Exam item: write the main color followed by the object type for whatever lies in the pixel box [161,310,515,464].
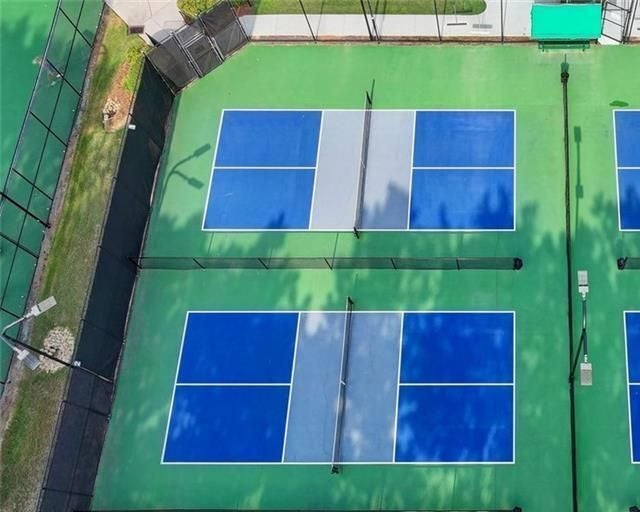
blue sports court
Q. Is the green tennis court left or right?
left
